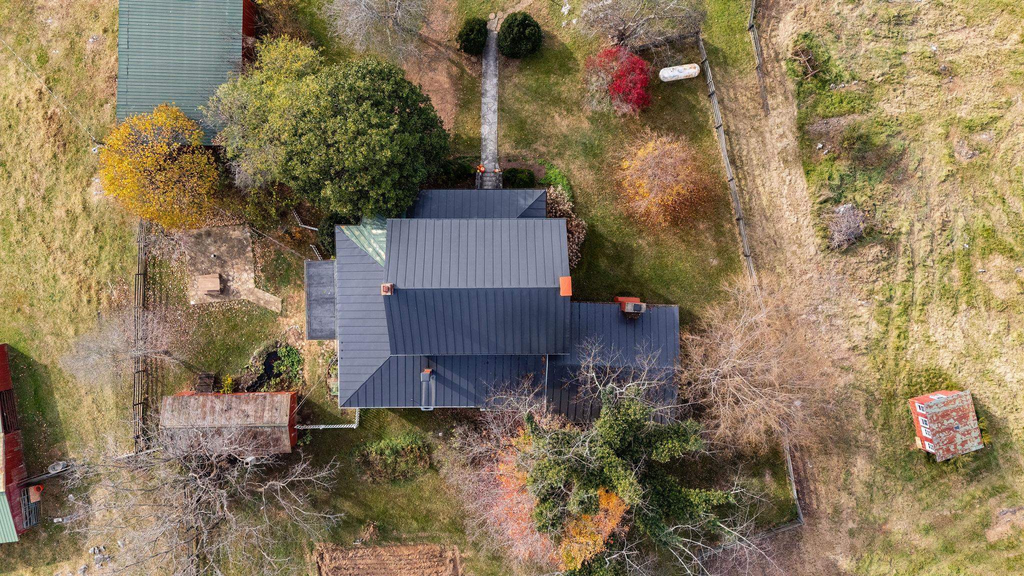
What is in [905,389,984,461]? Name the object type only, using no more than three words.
shed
